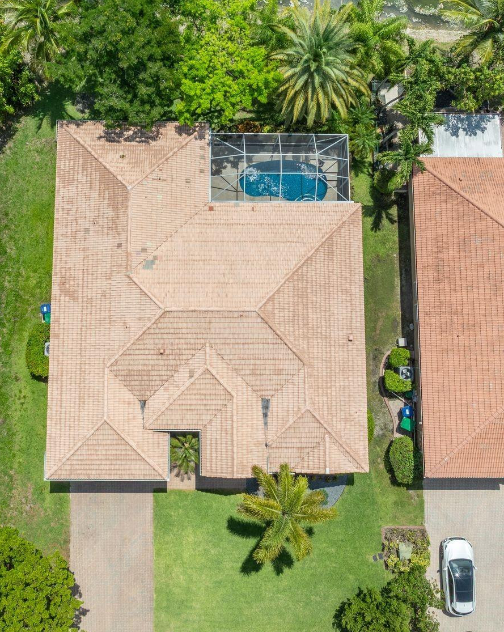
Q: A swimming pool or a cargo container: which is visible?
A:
swimming pool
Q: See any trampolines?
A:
No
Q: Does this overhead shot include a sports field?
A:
No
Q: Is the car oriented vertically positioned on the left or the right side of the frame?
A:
right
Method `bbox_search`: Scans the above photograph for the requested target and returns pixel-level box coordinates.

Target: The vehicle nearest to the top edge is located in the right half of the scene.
[436,534,477,620]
